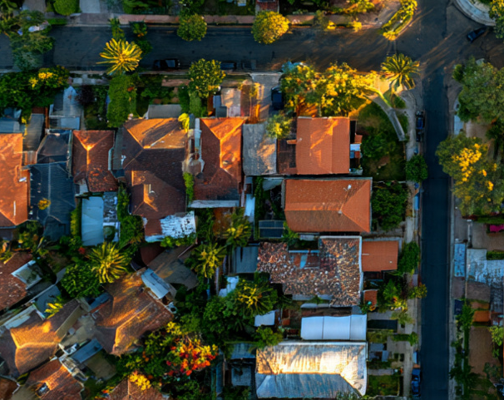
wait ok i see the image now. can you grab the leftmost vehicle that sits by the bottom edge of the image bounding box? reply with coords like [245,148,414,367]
[410,366,423,394]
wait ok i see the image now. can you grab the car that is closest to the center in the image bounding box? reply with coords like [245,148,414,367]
[271,85,284,109]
